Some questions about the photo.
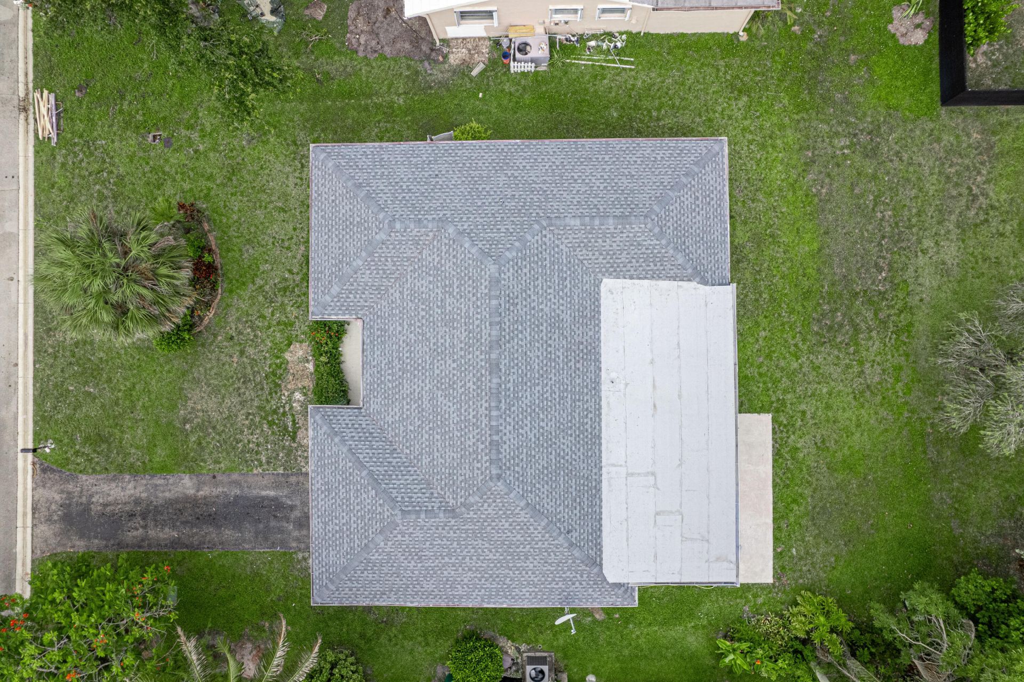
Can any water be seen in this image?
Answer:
No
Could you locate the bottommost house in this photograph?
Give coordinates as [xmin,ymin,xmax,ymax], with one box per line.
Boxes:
[309,137,740,606]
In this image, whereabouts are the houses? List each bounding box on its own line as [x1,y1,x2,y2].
[403,0,779,44]
[309,137,740,606]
